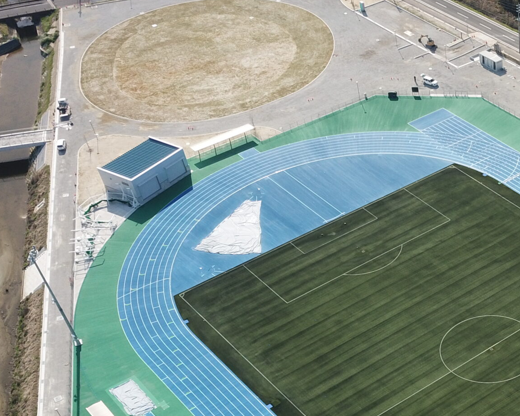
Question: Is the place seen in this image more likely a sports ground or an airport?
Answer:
sports ground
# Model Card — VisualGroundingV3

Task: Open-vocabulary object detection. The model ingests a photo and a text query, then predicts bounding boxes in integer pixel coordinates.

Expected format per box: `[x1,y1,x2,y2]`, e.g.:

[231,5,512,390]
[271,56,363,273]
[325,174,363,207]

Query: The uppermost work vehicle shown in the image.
[422,25,437,46]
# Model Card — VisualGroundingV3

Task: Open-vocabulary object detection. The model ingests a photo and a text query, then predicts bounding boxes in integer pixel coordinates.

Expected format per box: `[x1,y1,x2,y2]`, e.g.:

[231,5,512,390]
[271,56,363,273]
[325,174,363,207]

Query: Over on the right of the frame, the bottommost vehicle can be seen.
[420,73,443,87]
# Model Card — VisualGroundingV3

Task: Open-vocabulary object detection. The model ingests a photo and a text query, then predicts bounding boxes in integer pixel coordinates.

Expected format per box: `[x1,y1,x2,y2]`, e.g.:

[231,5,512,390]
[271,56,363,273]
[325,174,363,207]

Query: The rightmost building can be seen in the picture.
[474,47,504,72]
